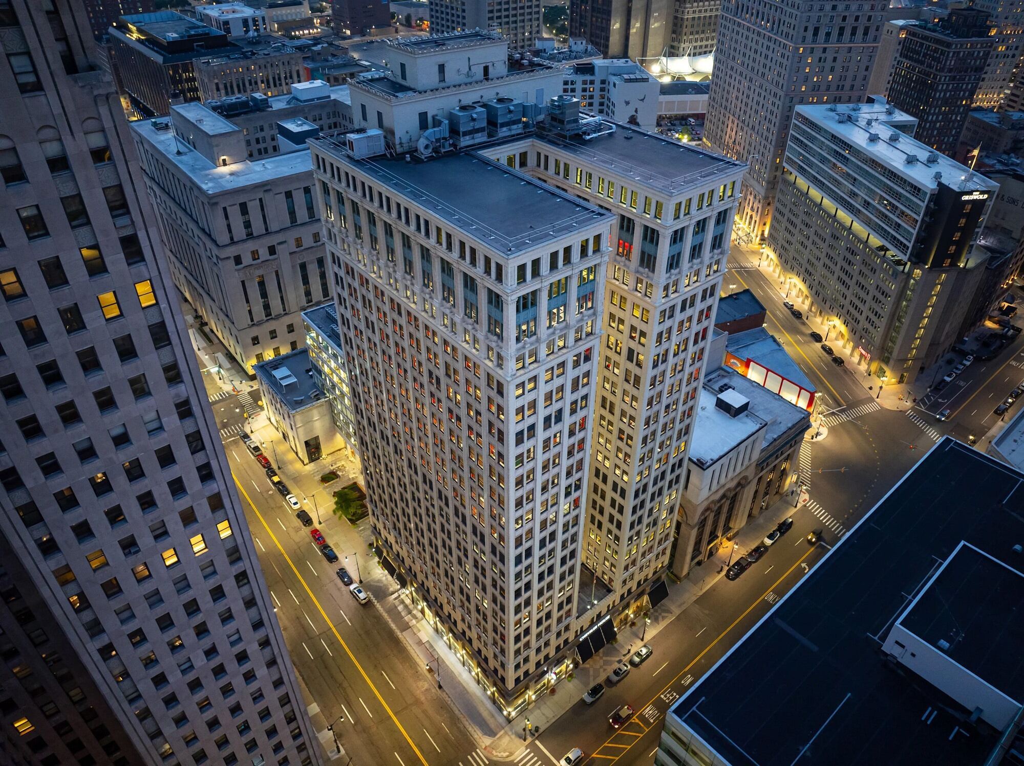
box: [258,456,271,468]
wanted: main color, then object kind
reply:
red vehicle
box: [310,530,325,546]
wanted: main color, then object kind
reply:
red car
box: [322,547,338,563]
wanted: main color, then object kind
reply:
black car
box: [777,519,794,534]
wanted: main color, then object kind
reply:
black car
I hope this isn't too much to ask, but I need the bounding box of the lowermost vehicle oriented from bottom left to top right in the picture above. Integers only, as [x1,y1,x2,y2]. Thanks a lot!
[557,743,583,766]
